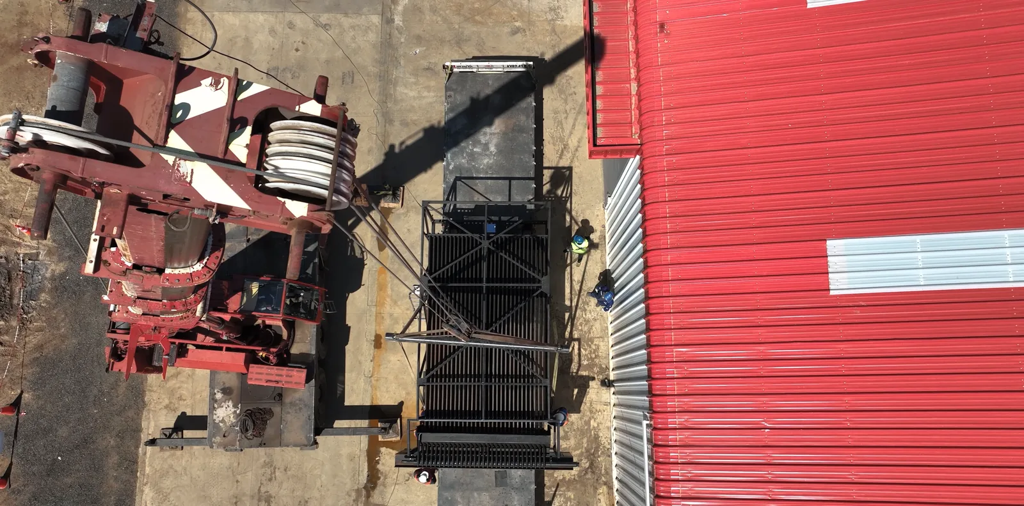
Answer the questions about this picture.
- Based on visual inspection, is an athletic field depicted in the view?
No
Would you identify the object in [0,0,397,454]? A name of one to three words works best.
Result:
crane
